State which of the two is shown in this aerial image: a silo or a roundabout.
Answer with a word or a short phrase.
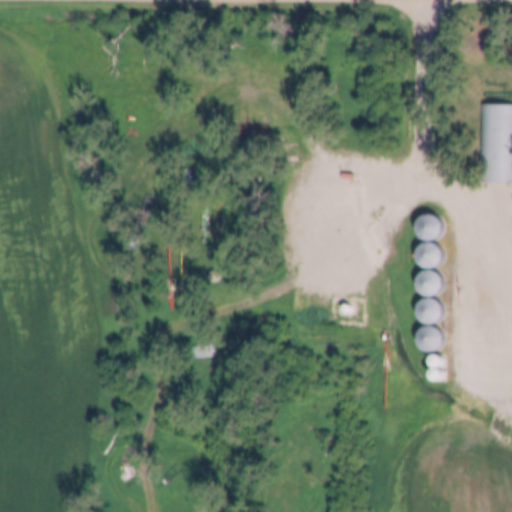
silo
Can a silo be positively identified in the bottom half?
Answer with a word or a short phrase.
Yes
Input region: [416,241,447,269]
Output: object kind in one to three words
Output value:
silo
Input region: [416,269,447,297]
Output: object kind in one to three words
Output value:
silo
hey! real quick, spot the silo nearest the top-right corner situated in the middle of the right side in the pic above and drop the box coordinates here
[416,214,448,241]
